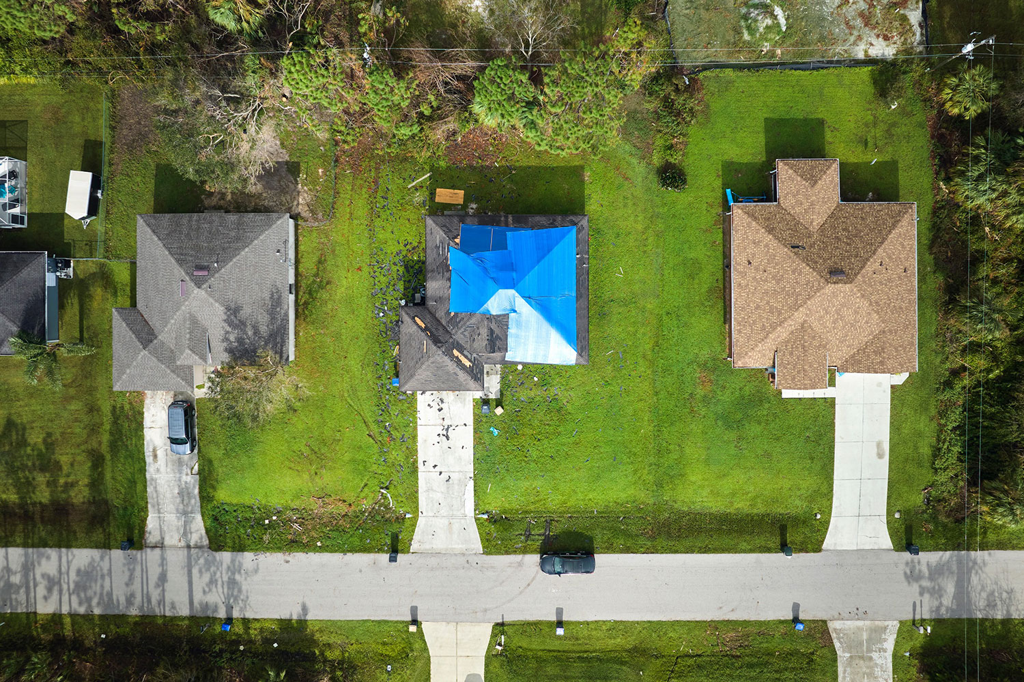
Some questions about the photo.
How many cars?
2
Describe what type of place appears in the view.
residential area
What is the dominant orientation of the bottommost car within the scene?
from left to right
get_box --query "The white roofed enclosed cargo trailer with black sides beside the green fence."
[59,171,103,235]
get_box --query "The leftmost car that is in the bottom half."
[165,400,195,454]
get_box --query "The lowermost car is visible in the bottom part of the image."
[540,551,594,579]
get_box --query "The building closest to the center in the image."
[399,215,588,392]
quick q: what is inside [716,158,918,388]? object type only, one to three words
house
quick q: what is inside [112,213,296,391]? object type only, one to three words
house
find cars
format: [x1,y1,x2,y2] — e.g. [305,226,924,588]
[540,551,594,579]
[165,400,195,454]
